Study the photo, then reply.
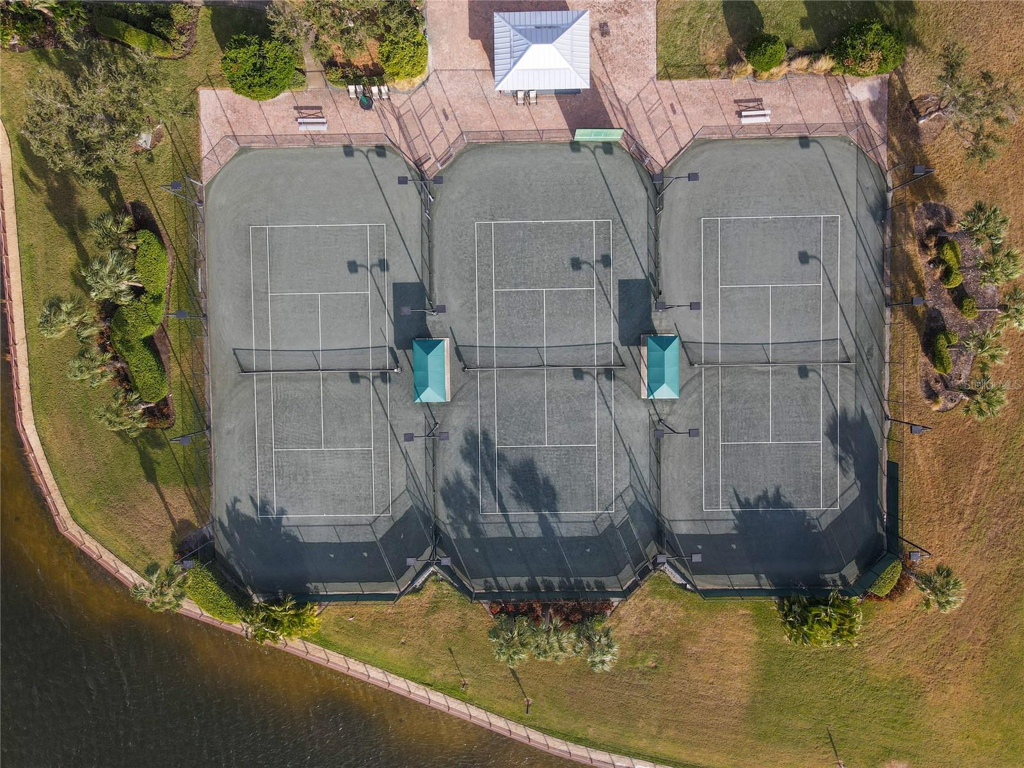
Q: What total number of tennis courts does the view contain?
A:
3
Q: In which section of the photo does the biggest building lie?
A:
top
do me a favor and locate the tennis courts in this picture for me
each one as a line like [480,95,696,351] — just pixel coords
[660,134,888,587]
[203,143,436,593]
[426,141,662,591]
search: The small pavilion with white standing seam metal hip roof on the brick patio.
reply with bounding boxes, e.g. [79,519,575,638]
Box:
[493,10,590,96]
